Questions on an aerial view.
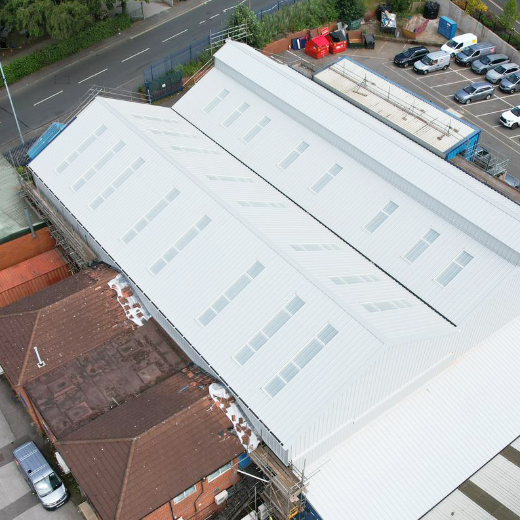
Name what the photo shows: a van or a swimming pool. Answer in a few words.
van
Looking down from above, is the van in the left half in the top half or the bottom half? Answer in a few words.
bottom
